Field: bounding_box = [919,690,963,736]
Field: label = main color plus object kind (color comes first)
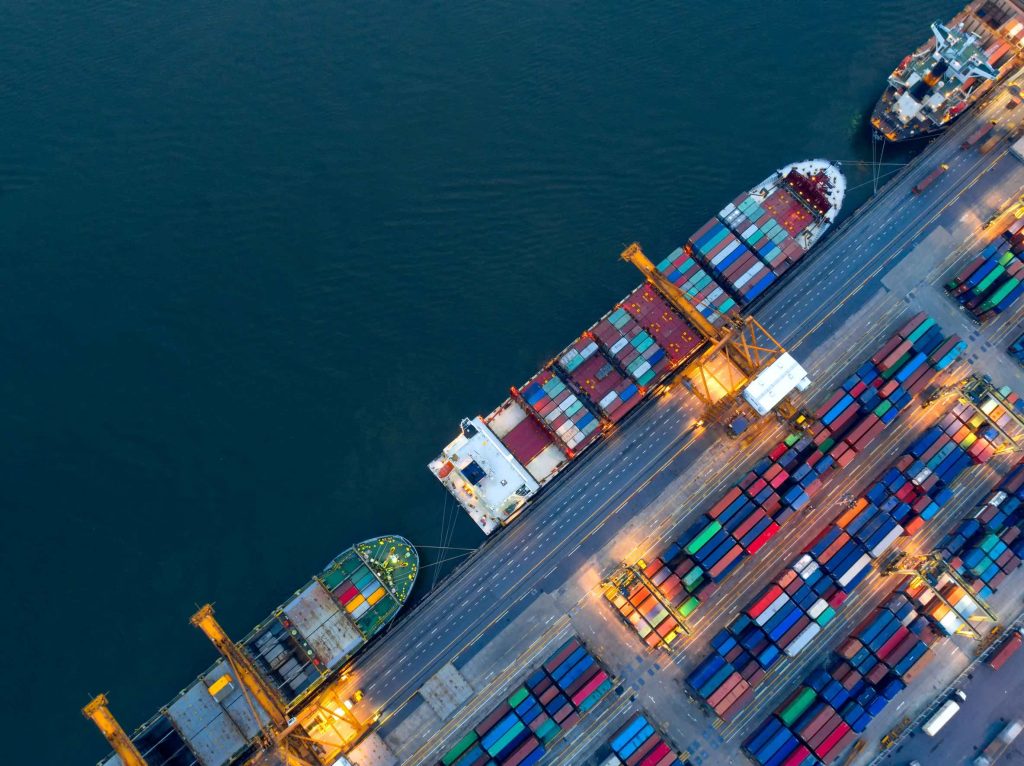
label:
white truck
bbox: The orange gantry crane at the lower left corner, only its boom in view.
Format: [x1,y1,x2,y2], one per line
[74,688,150,766]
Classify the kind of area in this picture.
port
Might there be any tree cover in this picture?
No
